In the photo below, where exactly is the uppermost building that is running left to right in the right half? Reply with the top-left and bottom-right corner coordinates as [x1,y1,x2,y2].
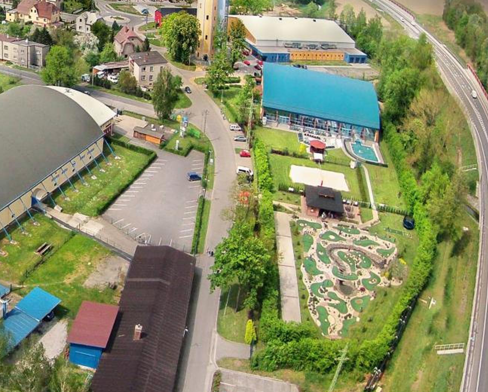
[229,14,368,64]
